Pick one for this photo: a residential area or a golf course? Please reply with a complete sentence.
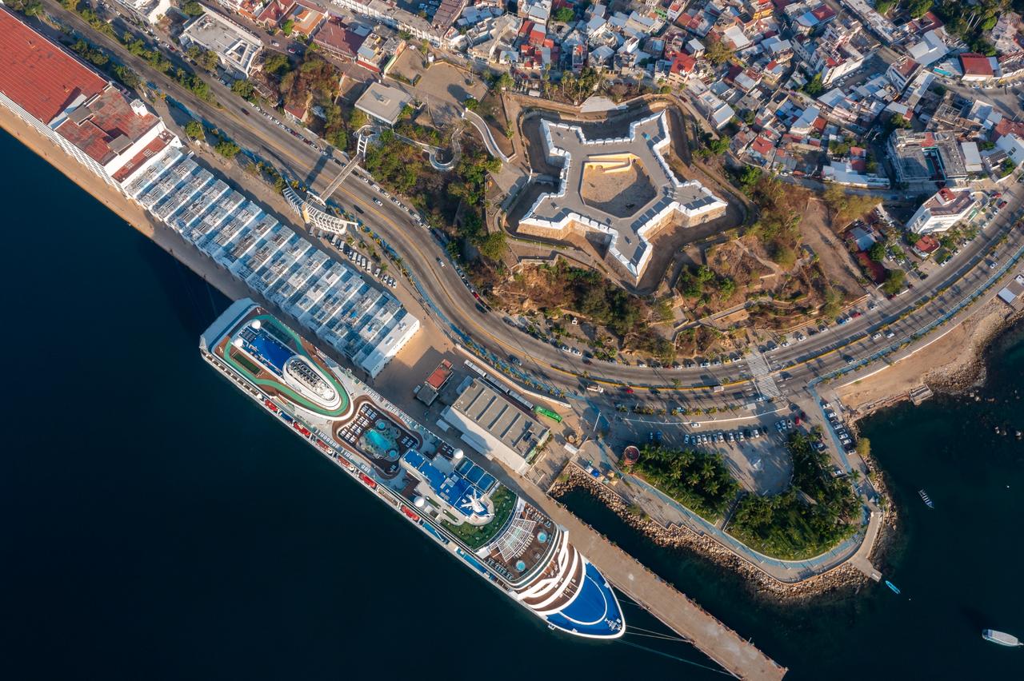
It's a residential area.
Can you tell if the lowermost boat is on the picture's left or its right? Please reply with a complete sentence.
The lowermost boat appears in the right half of the scene.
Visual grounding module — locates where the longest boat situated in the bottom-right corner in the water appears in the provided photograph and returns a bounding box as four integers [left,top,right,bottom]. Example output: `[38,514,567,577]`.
[981,627,1022,647]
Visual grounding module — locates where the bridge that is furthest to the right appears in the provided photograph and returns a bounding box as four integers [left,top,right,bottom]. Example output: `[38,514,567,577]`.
[516,171,566,188]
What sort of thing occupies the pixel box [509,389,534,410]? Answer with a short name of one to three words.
bus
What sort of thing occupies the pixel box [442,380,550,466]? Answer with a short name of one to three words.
building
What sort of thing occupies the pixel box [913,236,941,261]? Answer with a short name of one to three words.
house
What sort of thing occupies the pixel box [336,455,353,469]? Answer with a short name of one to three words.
boat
